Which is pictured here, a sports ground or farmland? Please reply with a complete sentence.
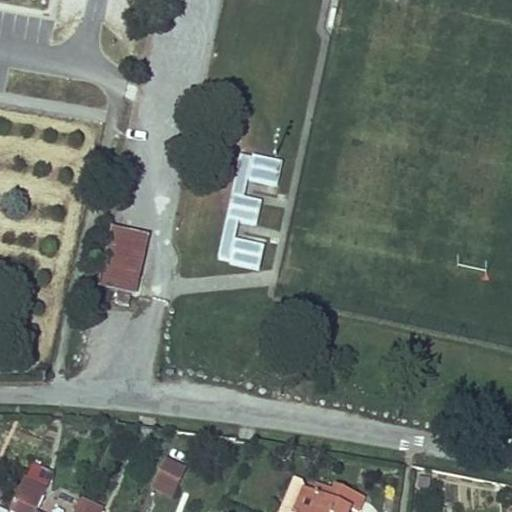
It's a sports ground.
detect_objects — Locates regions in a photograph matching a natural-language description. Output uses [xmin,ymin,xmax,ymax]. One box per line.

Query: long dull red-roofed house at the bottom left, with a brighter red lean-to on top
[10,458,54,512]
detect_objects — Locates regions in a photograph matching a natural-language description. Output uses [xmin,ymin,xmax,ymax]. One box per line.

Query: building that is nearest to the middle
[218,152,283,272]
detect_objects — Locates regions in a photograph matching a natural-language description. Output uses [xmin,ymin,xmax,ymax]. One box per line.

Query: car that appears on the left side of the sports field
[126,128,148,140]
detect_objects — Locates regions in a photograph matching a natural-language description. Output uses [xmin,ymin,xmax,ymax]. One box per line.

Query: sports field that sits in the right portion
[277,0,512,348]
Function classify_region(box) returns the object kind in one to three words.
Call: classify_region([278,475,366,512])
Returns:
house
